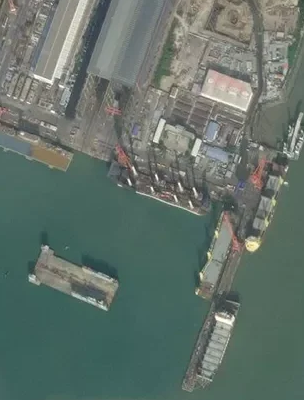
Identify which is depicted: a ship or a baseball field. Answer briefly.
ship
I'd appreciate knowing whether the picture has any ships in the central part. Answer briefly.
Yes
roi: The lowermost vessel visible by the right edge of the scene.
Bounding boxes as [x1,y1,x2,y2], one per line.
[250,157,293,250]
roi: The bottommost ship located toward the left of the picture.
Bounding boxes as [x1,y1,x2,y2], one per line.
[29,245,119,310]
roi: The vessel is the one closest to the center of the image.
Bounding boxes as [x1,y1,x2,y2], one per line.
[115,163,211,216]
